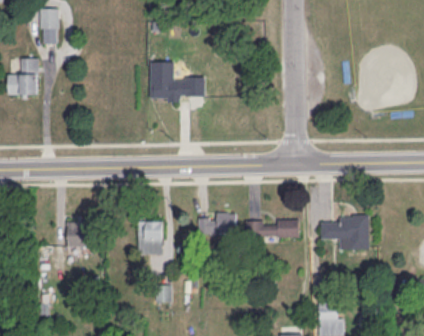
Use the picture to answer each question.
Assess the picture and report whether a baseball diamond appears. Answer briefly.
Yes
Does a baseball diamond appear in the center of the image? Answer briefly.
No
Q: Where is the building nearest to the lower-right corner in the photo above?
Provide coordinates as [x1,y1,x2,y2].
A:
[320,304,347,336]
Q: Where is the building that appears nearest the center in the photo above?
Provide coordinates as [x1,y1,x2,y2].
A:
[199,212,239,237]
